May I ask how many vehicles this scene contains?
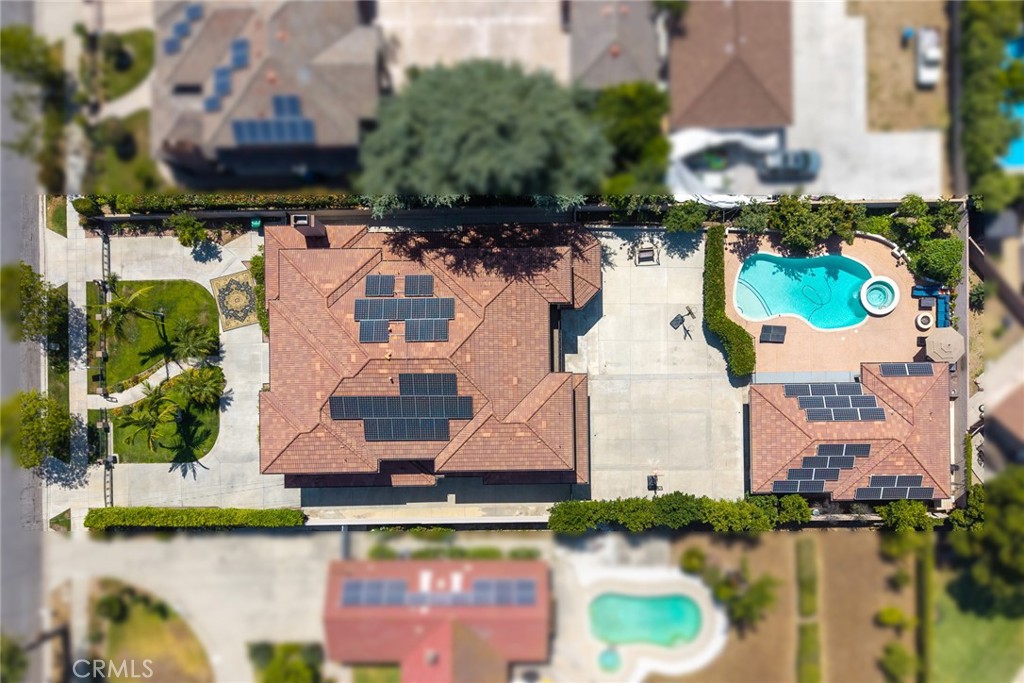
two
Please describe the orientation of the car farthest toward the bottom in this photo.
horizontally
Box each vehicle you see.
[912,27,946,89]
[754,153,818,183]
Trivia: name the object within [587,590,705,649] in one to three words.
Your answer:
swimming pool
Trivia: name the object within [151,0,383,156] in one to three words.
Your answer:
house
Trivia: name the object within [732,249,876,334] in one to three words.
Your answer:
swimming pool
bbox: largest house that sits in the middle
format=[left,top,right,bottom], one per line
[259,214,601,490]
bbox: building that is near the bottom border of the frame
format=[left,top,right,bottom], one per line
[324,554,551,683]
